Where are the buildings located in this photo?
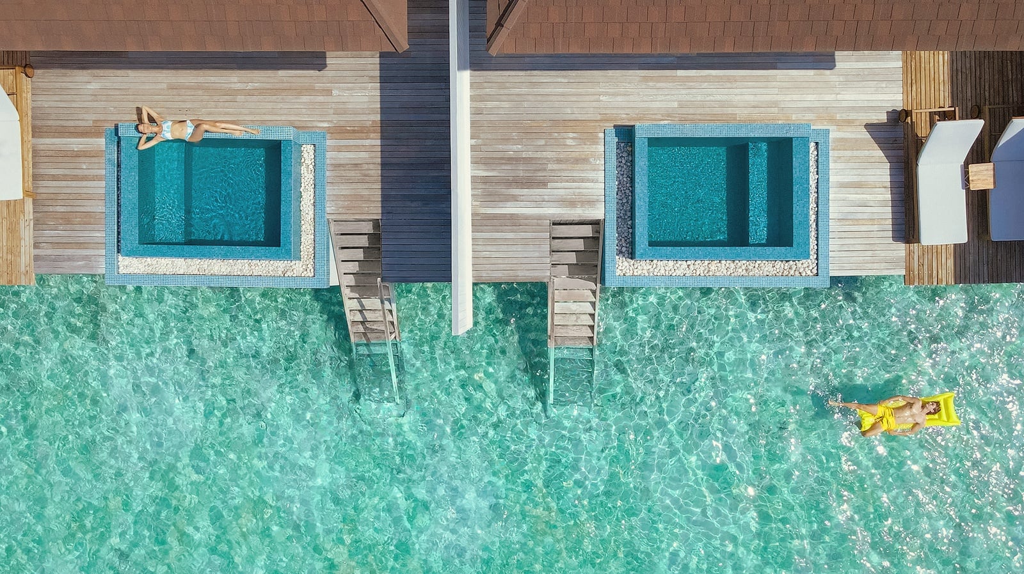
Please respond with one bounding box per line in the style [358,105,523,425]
[0,0,413,58]
[481,0,1024,57]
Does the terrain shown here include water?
Yes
